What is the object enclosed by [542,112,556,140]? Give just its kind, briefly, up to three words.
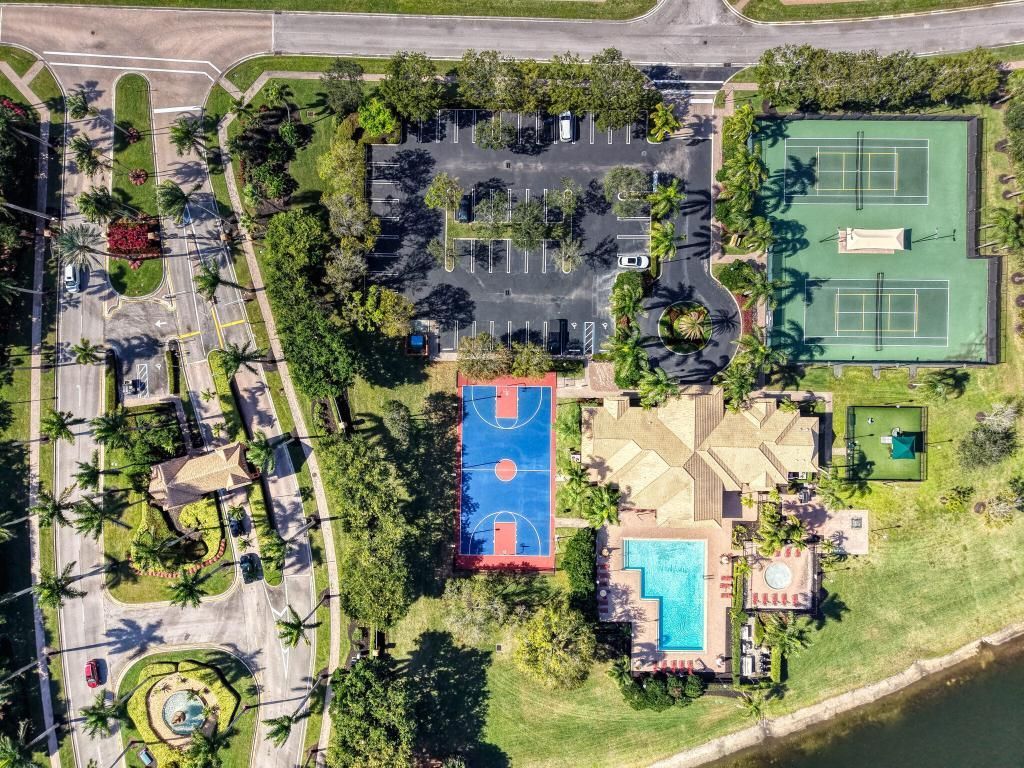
car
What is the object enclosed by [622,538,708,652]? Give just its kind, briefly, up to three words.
swimming pool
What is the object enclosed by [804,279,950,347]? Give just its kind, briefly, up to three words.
tennis court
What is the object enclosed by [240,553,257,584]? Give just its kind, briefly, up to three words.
car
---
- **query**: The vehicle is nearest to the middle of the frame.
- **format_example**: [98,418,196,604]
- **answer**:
[548,319,563,353]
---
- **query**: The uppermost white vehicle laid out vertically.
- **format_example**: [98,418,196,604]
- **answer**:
[559,110,574,140]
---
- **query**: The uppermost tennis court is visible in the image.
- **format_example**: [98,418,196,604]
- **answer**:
[785,138,929,205]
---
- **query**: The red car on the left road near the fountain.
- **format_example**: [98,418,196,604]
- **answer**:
[84,659,100,687]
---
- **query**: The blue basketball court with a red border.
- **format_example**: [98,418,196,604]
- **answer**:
[456,373,557,572]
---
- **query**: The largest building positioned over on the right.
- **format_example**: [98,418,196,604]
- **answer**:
[582,385,820,527]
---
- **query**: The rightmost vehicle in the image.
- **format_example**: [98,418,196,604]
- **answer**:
[621,253,650,267]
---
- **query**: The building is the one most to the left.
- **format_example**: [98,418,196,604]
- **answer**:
[147,442,257,510]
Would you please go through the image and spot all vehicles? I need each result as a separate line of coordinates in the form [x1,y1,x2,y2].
[228,517,243,541]
[542,112,556,140]
[621,253,650,267]
[240,553,257,584]
[121,381,134,395]
[84,659,100,687]
[457,193,470,221]
[62,262,80,291]
[548,319,563,353]
[559,110,574,140]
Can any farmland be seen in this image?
No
